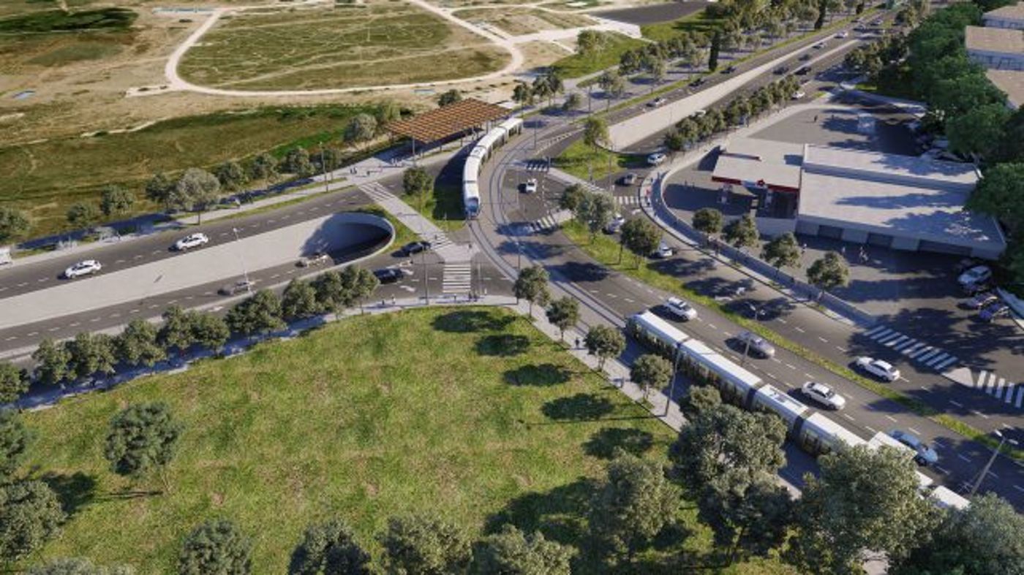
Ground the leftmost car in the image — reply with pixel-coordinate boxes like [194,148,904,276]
[62,256,100,277]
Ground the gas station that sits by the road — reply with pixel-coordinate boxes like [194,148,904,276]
[712,133,804,211]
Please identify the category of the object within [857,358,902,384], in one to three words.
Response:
car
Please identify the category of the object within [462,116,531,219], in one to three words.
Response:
train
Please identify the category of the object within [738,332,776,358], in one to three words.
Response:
car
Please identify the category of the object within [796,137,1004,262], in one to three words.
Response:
building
